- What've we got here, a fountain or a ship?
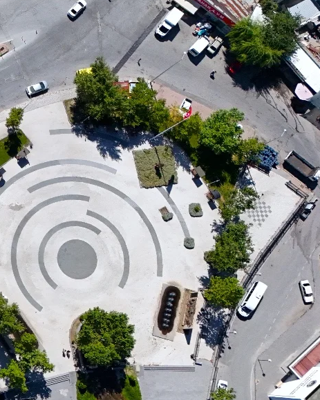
fountain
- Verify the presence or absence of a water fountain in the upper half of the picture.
No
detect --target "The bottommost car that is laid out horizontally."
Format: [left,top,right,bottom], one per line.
[25,83,48,96]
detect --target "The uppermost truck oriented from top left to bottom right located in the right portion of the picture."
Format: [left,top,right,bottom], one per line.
[284,148,320,182]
